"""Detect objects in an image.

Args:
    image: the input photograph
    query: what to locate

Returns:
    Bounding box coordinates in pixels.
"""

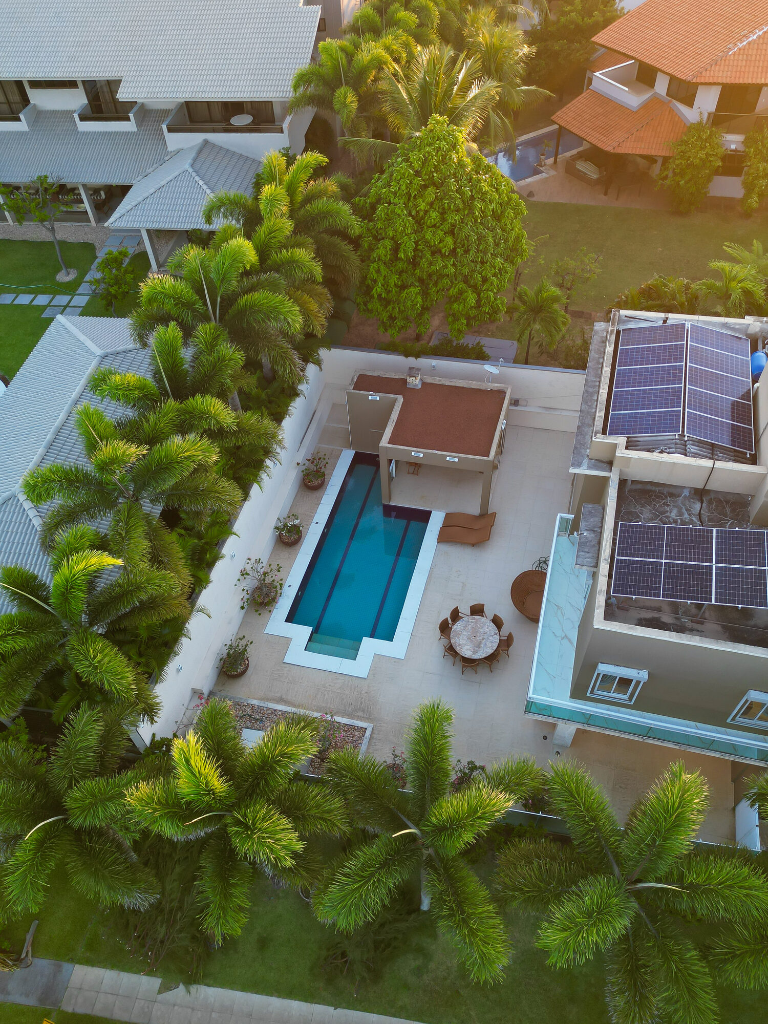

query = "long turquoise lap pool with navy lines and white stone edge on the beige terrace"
[263,448,446,679]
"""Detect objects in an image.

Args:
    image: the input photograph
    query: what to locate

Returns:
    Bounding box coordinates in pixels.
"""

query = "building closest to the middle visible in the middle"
[346,366,510,512]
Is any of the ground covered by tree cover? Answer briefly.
Yes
